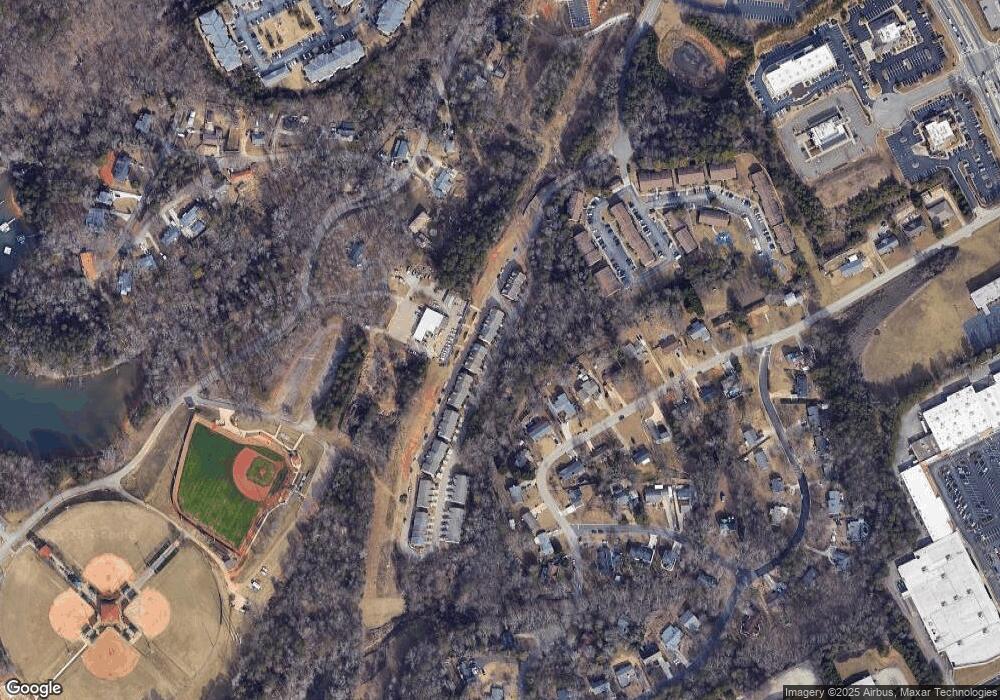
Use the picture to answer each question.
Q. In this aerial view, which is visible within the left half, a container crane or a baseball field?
baseball field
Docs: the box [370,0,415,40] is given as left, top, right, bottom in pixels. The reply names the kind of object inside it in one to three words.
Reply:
building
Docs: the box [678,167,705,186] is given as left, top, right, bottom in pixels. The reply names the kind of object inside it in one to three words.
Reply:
building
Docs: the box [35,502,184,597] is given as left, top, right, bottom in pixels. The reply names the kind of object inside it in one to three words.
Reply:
baseball field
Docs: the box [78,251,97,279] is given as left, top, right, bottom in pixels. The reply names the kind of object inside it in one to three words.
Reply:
house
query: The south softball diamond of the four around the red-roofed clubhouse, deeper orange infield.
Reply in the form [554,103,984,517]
[35,626,184,700]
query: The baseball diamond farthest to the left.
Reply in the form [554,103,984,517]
[1,537,97,685]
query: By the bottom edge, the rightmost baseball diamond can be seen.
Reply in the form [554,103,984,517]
[123,537,219,685]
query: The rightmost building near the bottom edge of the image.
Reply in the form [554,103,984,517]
[898,531,1000,668]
